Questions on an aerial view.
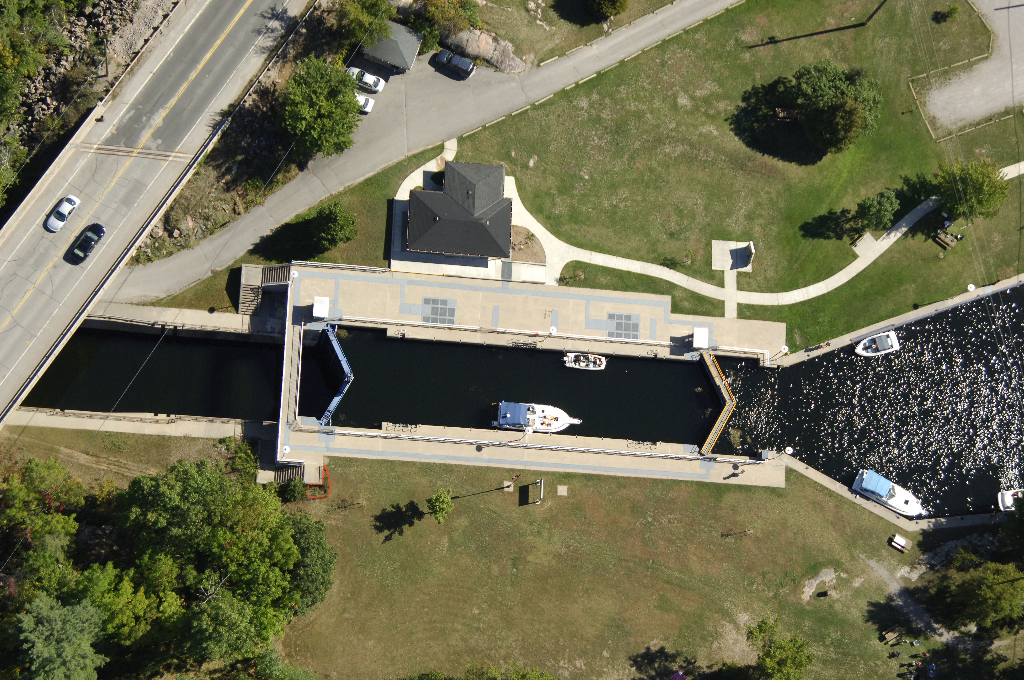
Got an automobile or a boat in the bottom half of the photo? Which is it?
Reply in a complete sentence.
What appears in the bottom half of the photo is a boat.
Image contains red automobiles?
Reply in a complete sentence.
No, there isn't any red automobile down there.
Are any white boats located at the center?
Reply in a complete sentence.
Yes, a white boat can be seen at the center.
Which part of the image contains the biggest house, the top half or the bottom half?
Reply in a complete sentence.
Seen from above, the biggest house lies in the top half of the view.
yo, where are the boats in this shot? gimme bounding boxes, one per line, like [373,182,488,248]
[560,349,611,371]
[489,400,583,431]
[996,490,1024,512]
[850,468,931,518]
[849,329,900,357]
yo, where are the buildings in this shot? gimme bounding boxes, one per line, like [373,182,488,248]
[363,24,422,74]
[690,327,708,351]
[407,161,512,258]
[313,296,329,320]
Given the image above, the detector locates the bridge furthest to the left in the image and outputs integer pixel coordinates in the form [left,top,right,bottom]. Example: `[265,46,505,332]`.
[0,97,200,430]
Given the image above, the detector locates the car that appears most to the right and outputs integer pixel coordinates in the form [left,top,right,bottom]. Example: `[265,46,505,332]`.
[435,47,477,79]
